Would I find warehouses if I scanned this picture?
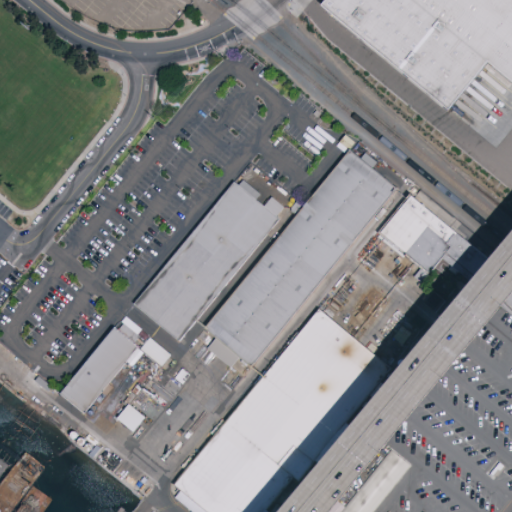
Yes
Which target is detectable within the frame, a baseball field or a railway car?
railway car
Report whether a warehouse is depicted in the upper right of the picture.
Yes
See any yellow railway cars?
No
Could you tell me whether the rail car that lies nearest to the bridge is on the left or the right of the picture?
right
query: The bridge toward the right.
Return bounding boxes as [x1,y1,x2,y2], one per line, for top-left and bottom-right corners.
[279,230,512,512]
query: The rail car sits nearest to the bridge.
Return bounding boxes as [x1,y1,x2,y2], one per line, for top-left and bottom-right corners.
[462,203,488,226]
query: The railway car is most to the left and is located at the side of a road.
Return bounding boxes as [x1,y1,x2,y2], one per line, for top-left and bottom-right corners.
[350,111,382,138]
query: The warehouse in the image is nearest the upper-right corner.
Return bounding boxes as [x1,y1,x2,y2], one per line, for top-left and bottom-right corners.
[320,0,512,110]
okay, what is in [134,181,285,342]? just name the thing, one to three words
warehouse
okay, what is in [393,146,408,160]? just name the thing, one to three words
rail car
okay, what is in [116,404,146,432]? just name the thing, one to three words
shed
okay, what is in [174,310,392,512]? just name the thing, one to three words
warehouse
